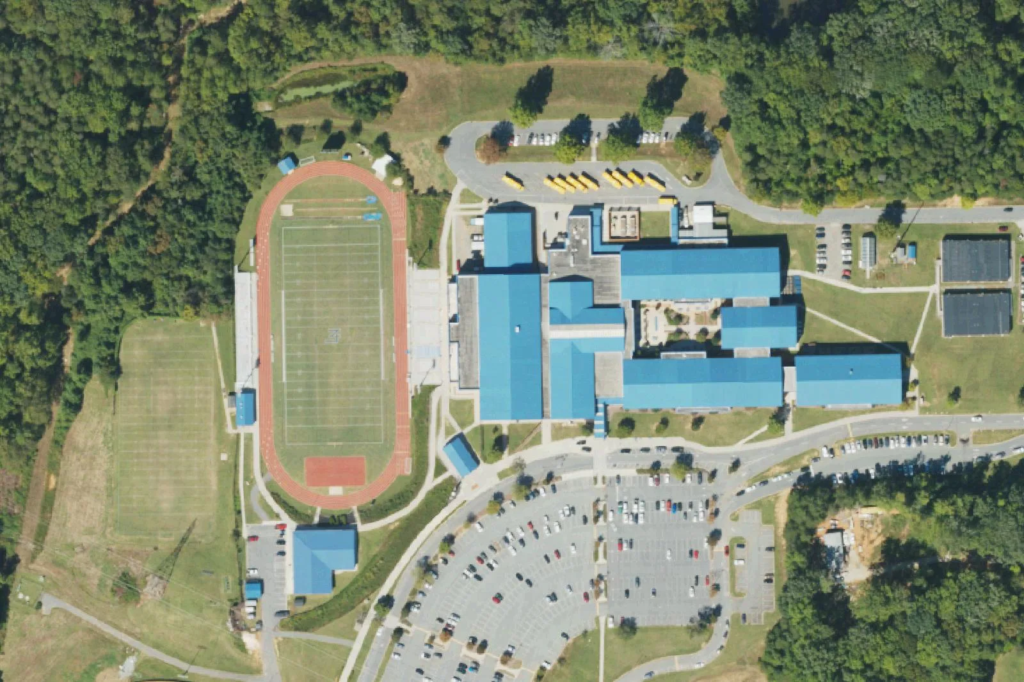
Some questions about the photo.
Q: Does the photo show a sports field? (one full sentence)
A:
Yes, I can see a sports field in this picture.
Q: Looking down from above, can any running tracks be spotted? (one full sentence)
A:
Yes, I can see a running track in this picture.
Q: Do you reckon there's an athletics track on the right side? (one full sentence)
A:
No, there is no athletics track on the right side.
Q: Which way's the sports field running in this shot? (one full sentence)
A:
The sports field is laid out up and down.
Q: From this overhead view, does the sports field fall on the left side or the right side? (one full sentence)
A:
It is on the left.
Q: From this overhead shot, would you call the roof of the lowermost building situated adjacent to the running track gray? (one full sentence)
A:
No, from above the roof of the lowermost building situated adjacent to the running track looks blue.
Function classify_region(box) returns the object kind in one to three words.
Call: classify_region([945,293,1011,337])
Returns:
building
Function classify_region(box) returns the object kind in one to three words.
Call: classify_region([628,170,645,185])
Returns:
vehicle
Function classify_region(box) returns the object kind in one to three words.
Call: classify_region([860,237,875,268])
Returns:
greenhouse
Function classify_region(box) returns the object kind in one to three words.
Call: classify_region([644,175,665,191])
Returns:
vehicle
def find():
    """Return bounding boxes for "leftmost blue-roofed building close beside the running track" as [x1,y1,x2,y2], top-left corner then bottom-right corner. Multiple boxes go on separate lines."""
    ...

[236,393,254,426]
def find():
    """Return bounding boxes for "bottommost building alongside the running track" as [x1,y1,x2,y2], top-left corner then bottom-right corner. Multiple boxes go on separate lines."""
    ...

[293,530,356,595]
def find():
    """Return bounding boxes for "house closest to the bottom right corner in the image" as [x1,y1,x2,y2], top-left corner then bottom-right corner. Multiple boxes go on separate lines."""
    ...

[825,532,845,564]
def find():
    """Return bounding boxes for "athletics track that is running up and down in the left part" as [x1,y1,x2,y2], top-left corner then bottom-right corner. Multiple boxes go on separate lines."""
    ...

[257,161,410,511]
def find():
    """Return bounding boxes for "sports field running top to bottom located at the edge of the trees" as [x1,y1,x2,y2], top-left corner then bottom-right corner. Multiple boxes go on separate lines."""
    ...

[271,175,395,497]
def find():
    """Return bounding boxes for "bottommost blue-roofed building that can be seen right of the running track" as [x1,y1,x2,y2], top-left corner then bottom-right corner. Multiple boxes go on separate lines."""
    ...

[443,438,479,477]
